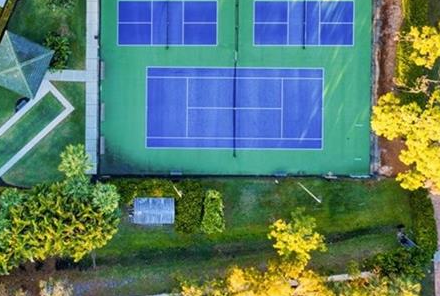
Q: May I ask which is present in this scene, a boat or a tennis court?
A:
tennis court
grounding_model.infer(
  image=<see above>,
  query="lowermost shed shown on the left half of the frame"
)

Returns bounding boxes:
[134,198,175,225]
